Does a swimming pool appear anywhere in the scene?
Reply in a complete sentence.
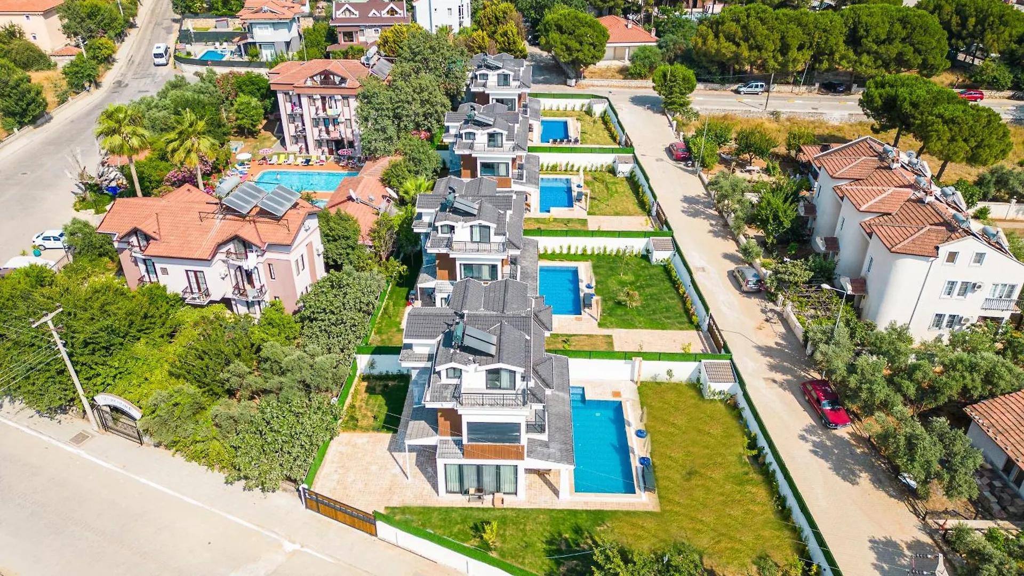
Yes, looking at the shot, I can spot a swimming pool.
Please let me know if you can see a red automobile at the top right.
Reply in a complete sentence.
Yes, there is a red automobile at the top right.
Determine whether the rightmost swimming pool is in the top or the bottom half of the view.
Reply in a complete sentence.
Seen from above, the rightmost swimming pool lies in the bottom half of the view.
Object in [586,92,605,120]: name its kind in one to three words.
shed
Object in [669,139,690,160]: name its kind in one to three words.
car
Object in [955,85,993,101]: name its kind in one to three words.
car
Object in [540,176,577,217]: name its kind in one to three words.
swimming pool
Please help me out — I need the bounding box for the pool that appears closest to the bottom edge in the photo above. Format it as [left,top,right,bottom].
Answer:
[569,383,643,498]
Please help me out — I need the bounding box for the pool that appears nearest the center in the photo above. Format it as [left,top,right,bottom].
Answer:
[539,263,586,317]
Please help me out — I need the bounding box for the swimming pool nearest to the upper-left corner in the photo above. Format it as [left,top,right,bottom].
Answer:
[195,48,237,61]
